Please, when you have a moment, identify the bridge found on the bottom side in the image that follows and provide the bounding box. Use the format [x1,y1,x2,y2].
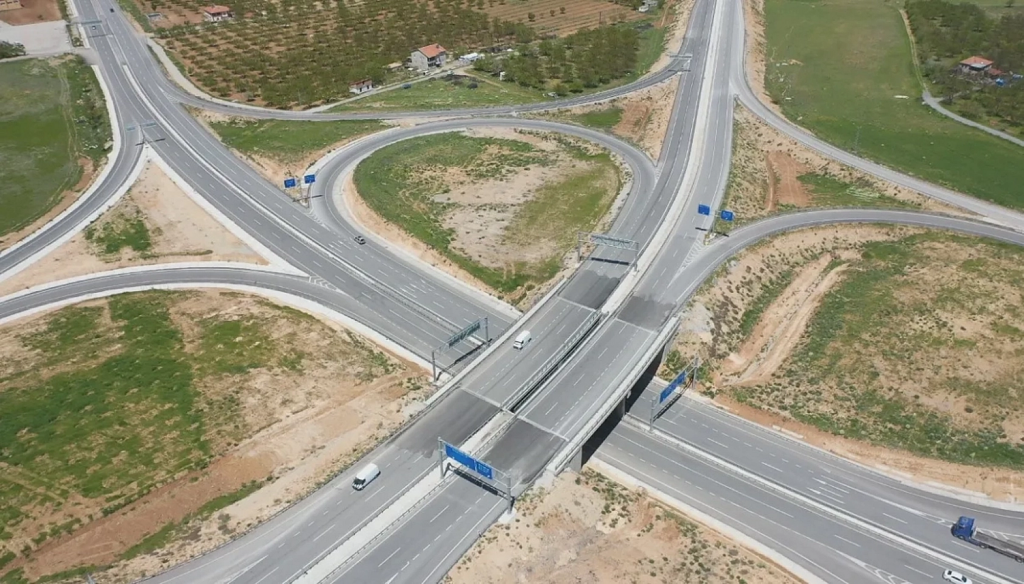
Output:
[406,264,687,486]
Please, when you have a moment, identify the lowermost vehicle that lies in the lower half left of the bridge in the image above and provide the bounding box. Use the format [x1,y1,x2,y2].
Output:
[355,462,382,490]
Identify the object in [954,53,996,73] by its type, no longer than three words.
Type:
house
